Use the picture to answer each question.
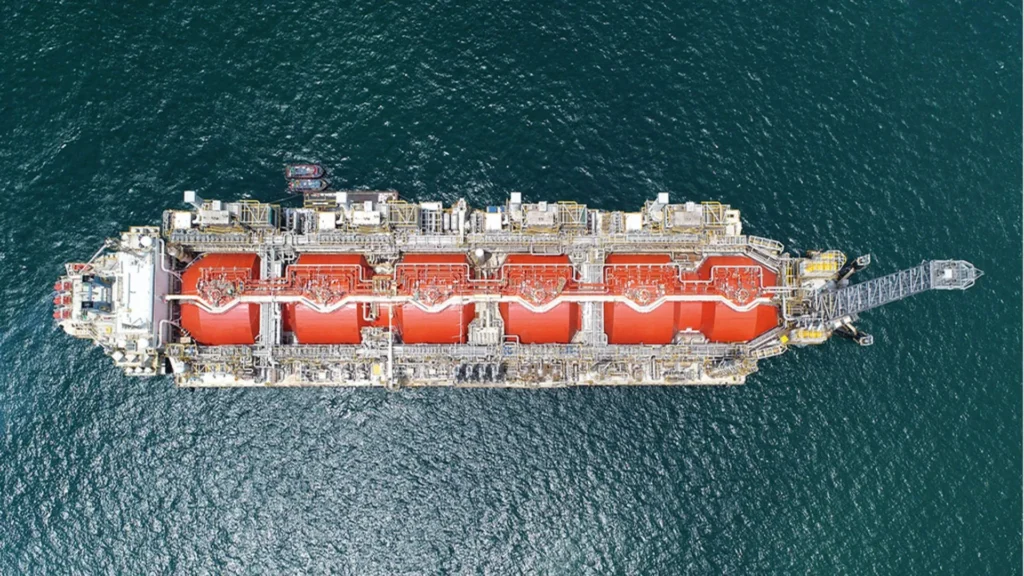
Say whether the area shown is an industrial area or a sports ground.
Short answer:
industrial area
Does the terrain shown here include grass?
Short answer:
No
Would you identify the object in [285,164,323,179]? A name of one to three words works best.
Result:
boat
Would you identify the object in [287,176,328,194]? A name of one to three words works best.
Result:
boat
